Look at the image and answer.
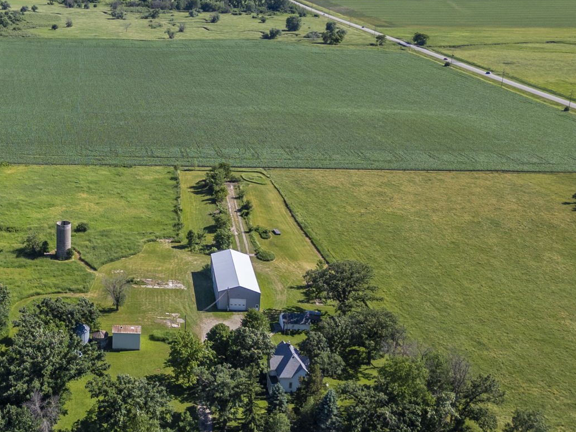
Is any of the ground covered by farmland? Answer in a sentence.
Yes, the picture does contain farmland.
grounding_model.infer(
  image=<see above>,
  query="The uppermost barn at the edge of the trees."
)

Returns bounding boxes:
[208,248,262,309]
